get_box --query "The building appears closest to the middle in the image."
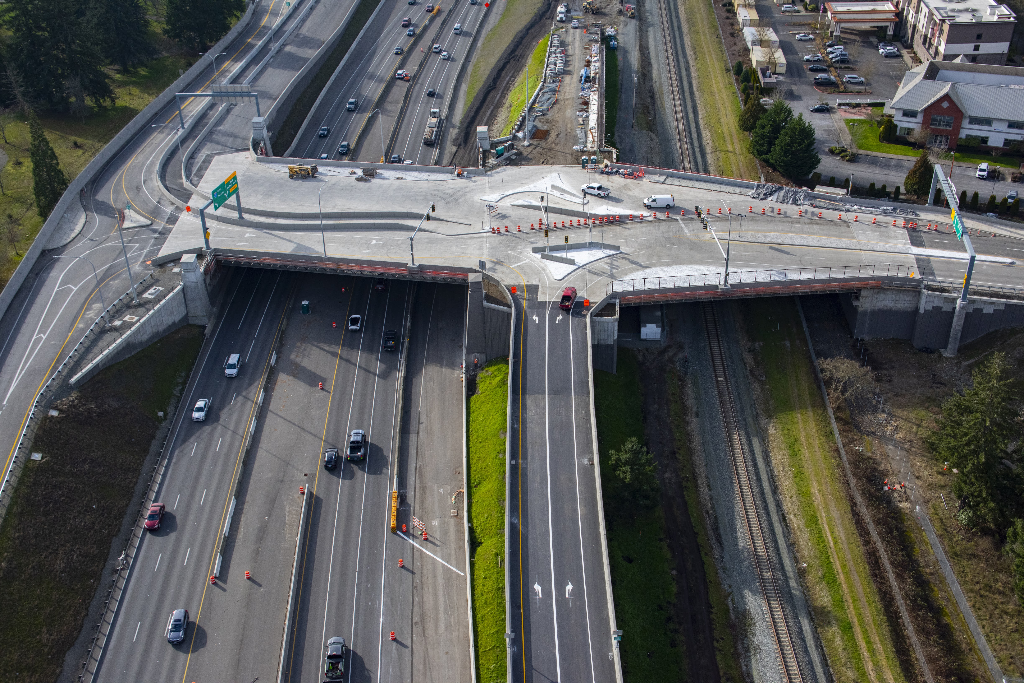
[636,307,664,339]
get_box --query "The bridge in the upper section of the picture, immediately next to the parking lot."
[151,145,1024,376]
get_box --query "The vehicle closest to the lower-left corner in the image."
[167,608,189,644]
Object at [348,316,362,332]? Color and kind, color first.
black car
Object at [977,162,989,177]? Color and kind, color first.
white vehicle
